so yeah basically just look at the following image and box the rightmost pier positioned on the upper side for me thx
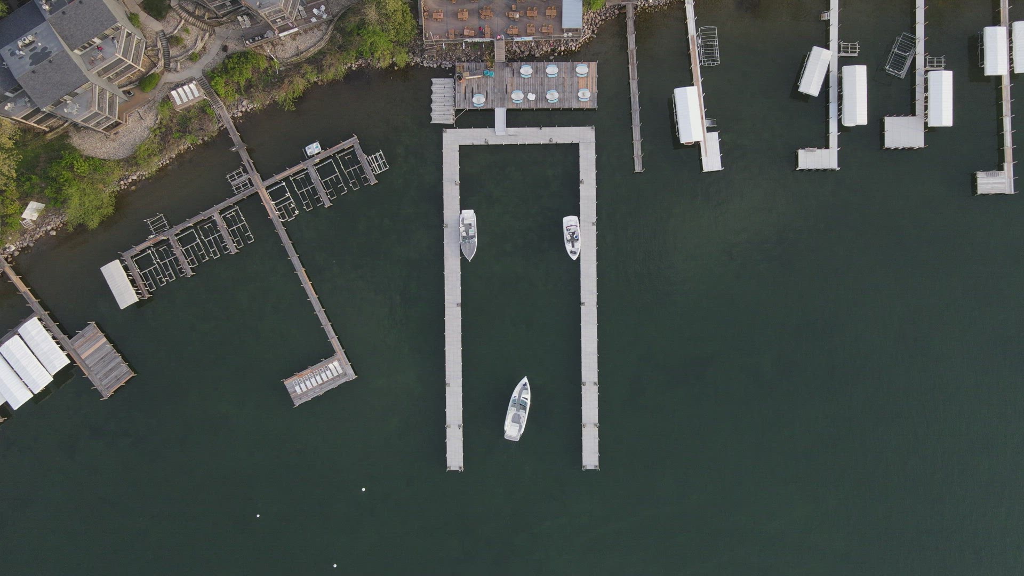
[973,0,1018,195]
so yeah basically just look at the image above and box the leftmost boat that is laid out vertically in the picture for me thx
[459,210,477,262]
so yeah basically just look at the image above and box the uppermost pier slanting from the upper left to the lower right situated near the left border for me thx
[0,255,138,398]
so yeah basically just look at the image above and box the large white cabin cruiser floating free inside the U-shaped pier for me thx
[504,375,530,441]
